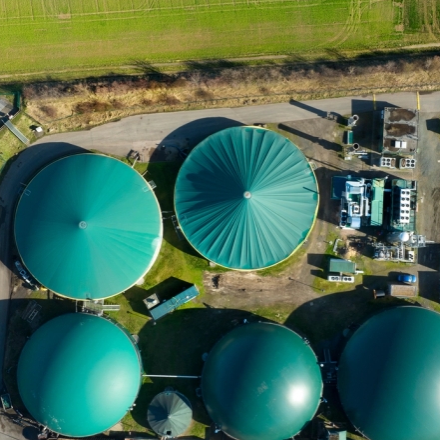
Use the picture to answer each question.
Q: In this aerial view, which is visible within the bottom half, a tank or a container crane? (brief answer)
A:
tank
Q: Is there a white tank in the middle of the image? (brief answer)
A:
No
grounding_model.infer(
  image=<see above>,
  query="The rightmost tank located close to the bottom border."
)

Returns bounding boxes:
[334,302,440,440]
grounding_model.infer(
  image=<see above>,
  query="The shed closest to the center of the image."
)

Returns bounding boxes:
[150,284,202,319]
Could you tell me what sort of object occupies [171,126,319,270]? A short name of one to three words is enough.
storage tank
